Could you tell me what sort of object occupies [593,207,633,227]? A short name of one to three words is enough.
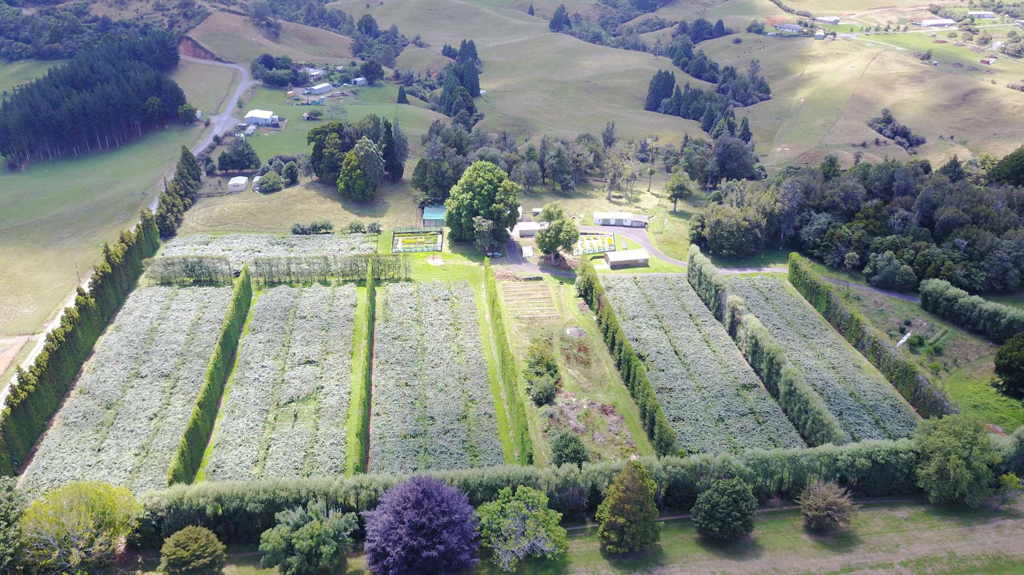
shed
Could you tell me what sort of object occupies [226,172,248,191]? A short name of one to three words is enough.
shed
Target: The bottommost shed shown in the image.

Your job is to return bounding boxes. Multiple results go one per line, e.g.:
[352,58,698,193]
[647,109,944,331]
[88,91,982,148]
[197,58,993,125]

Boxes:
[603,245,651,270]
